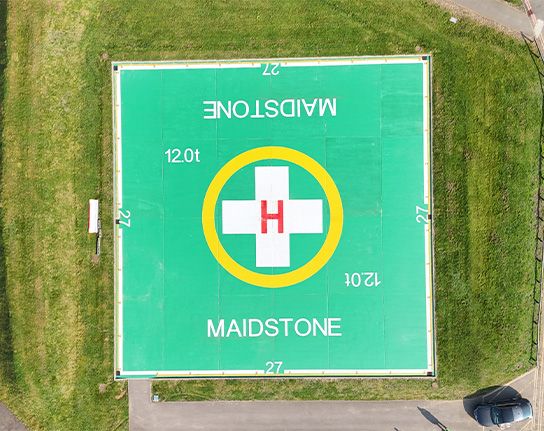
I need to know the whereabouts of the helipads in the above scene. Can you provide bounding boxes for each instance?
[112,54,438,380]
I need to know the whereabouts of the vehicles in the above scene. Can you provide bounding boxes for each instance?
[471,398,533,430]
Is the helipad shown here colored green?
Yes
